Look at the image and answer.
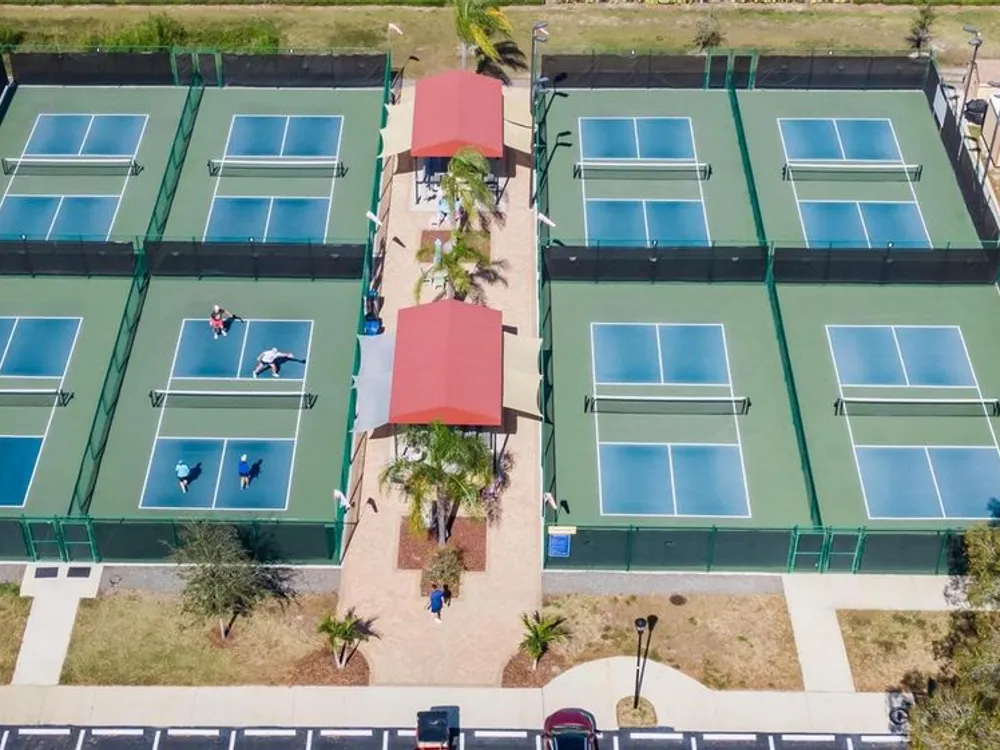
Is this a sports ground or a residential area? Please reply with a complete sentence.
The picture captures a sports ground.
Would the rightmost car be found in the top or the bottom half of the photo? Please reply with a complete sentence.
It is in the bottom half that the rightmost car appears.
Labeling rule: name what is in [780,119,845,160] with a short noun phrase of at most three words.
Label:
sports court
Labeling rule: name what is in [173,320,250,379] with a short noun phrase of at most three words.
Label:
sports court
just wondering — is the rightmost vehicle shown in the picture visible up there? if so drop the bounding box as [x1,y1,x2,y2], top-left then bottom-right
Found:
[540,710,604,750]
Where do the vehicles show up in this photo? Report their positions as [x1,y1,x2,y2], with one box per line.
[416,711,452,750]
[540,710,604,750]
